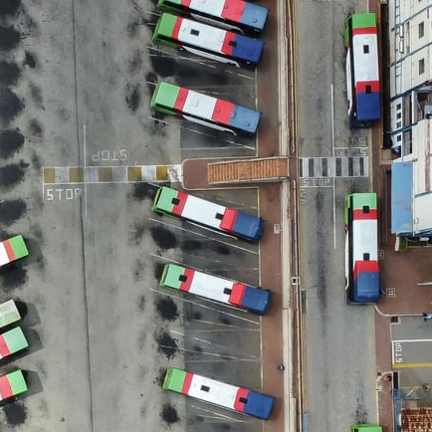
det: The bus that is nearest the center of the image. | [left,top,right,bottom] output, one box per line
[147,187,264,244]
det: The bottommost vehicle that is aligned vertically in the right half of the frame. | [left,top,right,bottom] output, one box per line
[340,191,378,305]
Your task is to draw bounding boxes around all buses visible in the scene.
[340,12,379,128]
[156,368,273,421]
[146,83,262,139]
[153,264,271,316]
[0,369,28,400]
[0,300,21,327]
[147,14,264,70]
[151,0,269,37]
[340,191,378,305]
[147,187,264,244]
[0,327,29,358]
[0,235,29,267]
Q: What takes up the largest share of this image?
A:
paved ground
